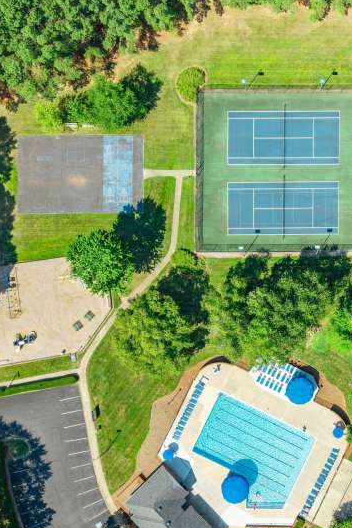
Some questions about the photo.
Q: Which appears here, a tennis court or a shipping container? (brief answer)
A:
tennis court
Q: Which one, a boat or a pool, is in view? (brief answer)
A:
pool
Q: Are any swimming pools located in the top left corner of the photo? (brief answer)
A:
No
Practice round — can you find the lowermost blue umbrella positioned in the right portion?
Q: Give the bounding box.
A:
[221,474,249,502]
